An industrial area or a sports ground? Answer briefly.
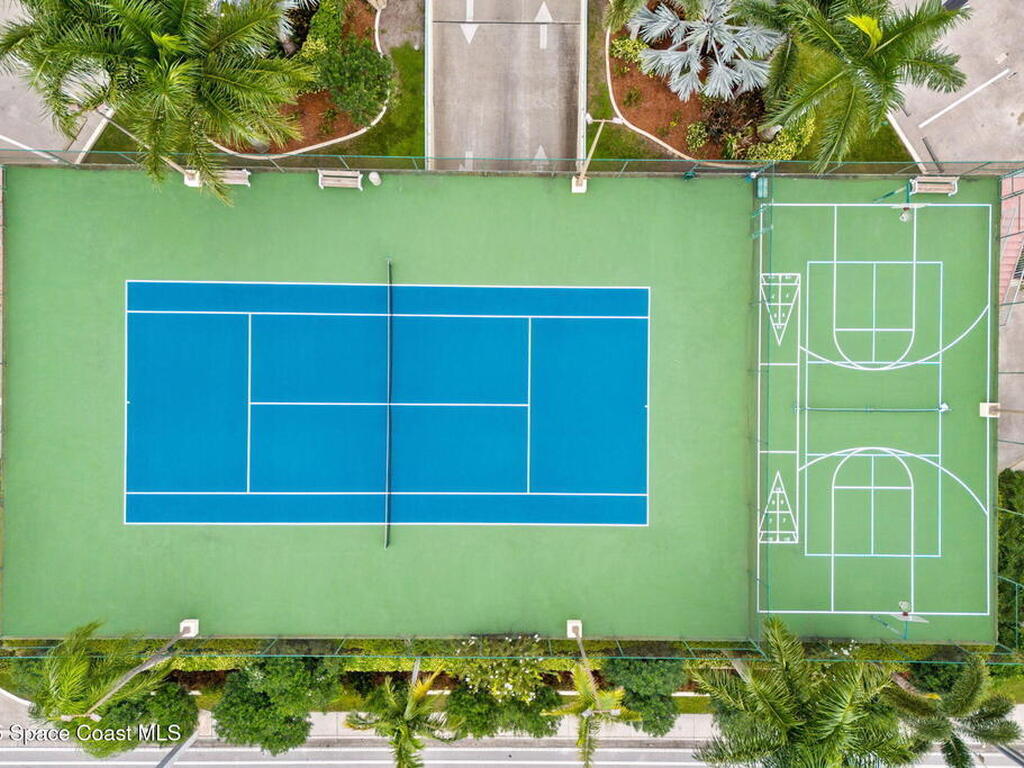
sports ground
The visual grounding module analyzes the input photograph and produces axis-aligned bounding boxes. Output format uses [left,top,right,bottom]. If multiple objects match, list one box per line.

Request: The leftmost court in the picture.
[3,166,751,640]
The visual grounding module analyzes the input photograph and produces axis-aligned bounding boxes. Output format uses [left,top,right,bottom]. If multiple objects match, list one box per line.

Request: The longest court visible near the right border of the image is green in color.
[747,179,1000,637]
